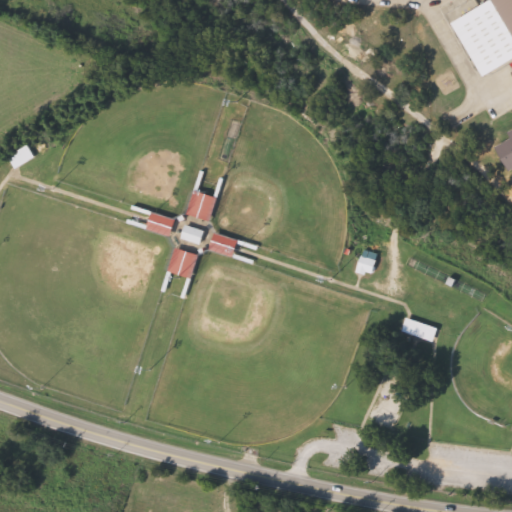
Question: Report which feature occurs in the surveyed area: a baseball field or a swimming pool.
baseball field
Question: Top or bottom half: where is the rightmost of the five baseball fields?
bottom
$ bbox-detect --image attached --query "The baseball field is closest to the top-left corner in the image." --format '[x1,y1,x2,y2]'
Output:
[58,84,226,214]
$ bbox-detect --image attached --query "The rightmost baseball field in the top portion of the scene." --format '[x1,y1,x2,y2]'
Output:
[214,101,346,272]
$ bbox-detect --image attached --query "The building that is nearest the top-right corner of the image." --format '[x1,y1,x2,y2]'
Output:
[451,0,512,76]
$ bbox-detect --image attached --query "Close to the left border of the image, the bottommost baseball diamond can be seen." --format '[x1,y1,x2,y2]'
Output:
[0,184,168,413]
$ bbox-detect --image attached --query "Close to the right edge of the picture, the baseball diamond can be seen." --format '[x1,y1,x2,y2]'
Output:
[452,310,512,426]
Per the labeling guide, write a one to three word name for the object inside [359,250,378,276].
building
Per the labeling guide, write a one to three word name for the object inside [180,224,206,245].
building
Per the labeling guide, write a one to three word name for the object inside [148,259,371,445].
baseball field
